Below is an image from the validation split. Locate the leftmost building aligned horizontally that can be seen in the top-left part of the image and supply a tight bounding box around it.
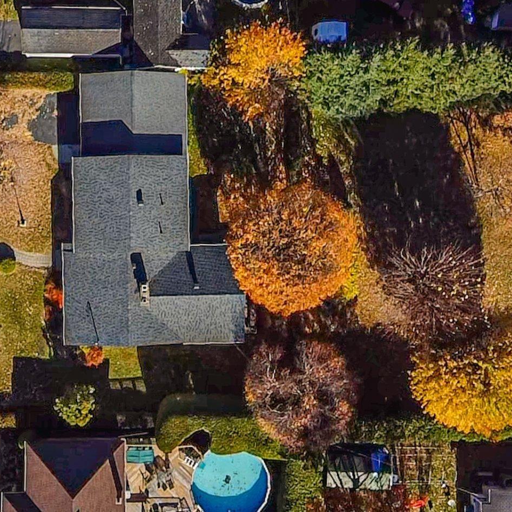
[16,6,121,57]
